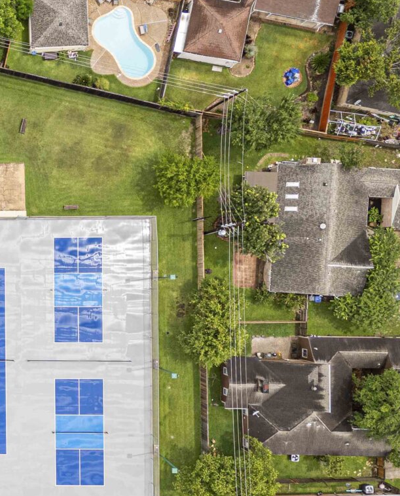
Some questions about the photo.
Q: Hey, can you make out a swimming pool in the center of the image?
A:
No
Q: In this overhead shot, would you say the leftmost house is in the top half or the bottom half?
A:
top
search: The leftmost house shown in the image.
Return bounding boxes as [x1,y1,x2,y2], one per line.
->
[29,0,90,51]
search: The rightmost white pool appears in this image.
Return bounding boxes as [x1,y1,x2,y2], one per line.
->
[91,4,157,80]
